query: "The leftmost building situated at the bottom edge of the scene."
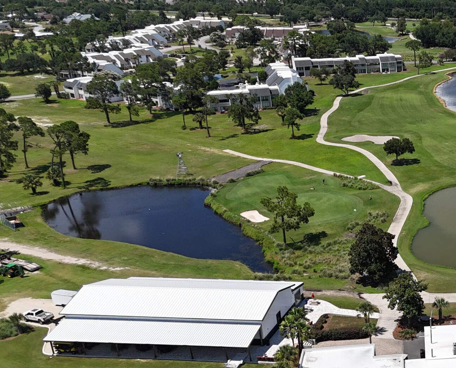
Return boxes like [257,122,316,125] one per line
[43,278,306,366]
